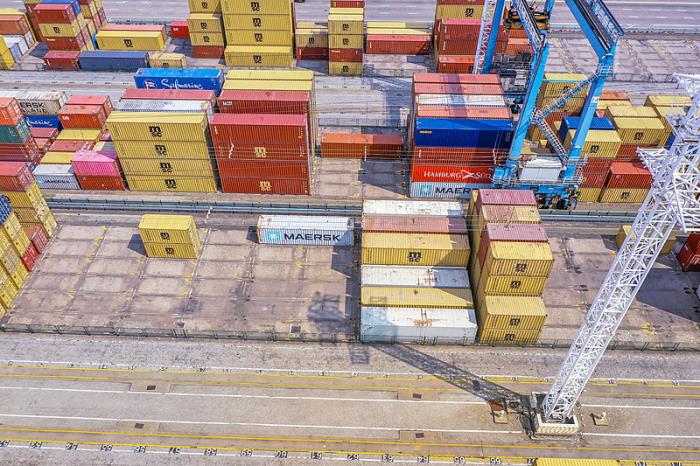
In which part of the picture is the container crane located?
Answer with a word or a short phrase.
top right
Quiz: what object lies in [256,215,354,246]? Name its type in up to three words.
shipping container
